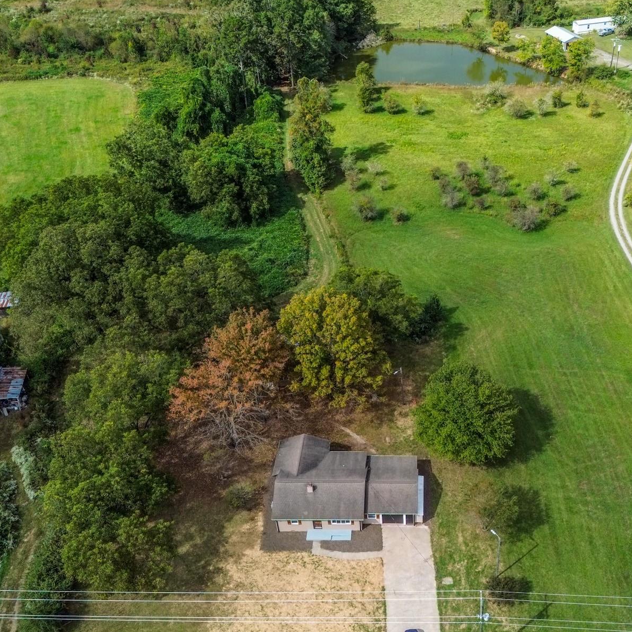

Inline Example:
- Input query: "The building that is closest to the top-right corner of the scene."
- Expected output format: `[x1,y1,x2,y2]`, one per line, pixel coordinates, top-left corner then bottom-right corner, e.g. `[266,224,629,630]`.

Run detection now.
[568,15,623,34]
